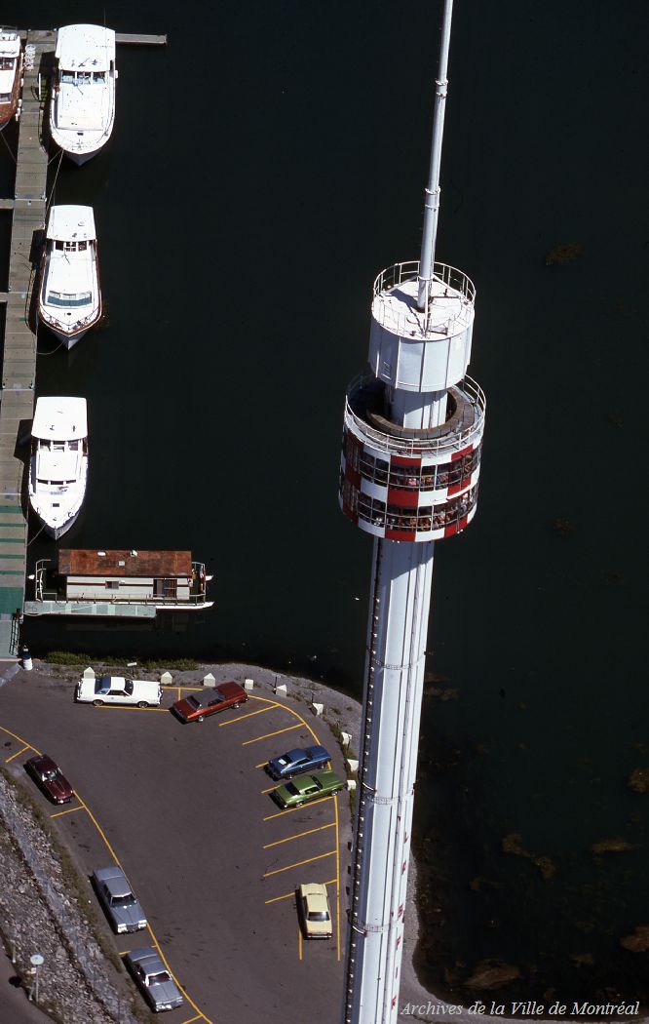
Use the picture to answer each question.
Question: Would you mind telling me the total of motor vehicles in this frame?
8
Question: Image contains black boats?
No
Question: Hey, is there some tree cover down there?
No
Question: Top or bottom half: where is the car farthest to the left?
bottom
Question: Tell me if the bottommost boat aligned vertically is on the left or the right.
left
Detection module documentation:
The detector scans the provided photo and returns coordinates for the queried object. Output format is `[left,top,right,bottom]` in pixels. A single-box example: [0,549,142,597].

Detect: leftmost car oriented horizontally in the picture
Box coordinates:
[76,676,164,707]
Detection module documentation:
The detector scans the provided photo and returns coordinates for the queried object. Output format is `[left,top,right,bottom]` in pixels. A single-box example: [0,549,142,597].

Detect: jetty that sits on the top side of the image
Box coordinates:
[0,32,163,629]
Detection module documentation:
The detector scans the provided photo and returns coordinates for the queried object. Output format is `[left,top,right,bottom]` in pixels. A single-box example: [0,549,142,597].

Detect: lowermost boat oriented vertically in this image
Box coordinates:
[26,398,90,543]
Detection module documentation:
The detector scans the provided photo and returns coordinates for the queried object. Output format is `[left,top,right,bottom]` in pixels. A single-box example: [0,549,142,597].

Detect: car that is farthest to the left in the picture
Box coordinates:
[26,755,76,807]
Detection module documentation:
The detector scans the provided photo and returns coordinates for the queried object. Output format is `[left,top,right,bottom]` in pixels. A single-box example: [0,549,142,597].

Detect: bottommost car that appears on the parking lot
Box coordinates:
[128,948,181,1012]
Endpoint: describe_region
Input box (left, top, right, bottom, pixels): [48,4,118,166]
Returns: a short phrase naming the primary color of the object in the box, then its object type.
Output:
white boat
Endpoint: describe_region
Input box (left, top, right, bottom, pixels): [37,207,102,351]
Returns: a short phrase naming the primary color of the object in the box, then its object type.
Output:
white boat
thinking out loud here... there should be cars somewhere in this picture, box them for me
[92,866,145,932]
[26,755,76,807]
[264,739,338,776]
[128,948,181,1012]
[76,676,164,707]
[172,679,254,722]
[301,884,333,939]
[272,765,348,805]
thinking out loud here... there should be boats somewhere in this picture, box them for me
[48,4,118,166]
[37,207,102,351]
[26,398,90,543]
[28,549,213,613]
[0,15,24,139]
